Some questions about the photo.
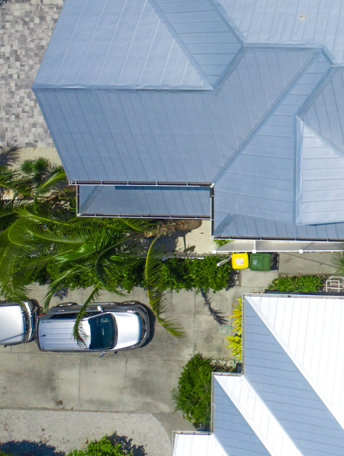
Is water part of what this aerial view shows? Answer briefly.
No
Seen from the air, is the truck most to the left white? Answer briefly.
Yes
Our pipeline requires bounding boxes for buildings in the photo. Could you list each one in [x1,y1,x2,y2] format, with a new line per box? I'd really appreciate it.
[32,0,344,246]
[169,288,344,456]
